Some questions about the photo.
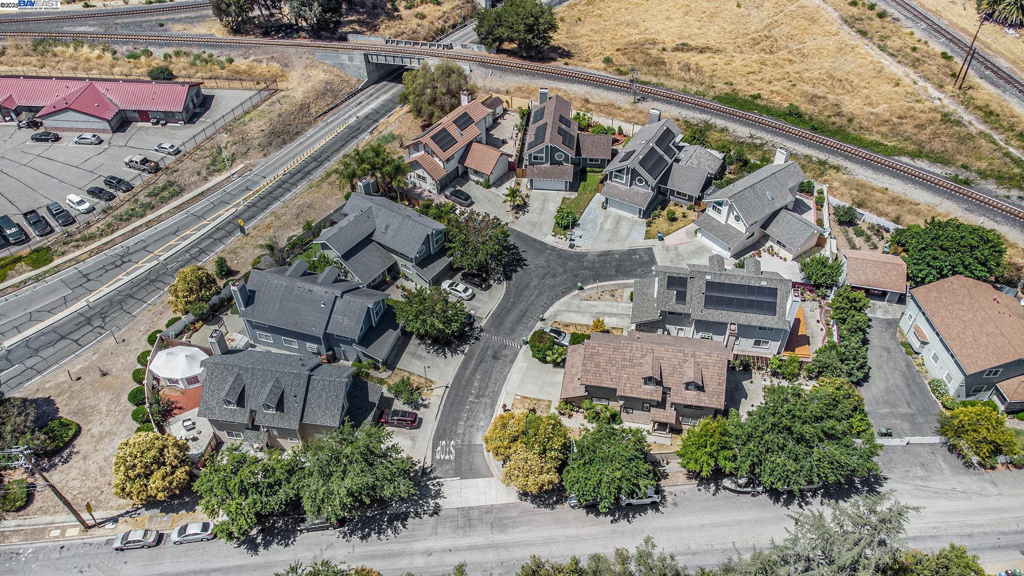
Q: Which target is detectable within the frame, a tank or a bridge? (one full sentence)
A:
This aerial view contains a bridge.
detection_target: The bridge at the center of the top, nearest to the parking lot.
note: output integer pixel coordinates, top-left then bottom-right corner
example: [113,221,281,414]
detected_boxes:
[319,29,510,86]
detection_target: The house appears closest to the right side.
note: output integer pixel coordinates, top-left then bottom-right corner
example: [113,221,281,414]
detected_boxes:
[901,270,1024,414]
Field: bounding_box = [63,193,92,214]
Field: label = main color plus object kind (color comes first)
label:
white car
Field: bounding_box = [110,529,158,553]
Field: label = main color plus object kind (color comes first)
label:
gray car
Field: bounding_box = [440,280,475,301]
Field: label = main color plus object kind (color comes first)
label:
white car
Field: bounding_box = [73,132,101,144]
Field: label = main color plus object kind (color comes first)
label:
gray vehicle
